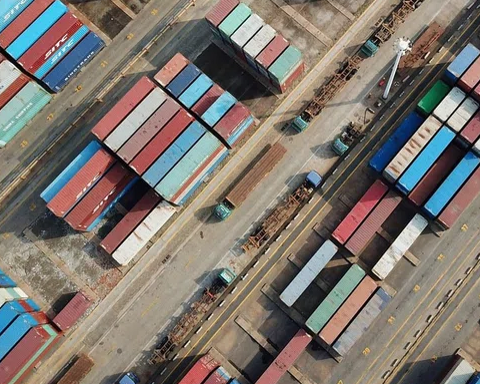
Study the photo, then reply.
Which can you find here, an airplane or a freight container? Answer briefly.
freight container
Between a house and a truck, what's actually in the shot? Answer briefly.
truck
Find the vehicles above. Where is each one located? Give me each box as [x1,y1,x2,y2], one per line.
[118,368,142,384]
[243,164,323,255]
[289,52,365,135]
[155,260,240,356]
[327,120,364,157]
[211,135,292,222]
[357,0,420,59]
[58,354,98,384]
